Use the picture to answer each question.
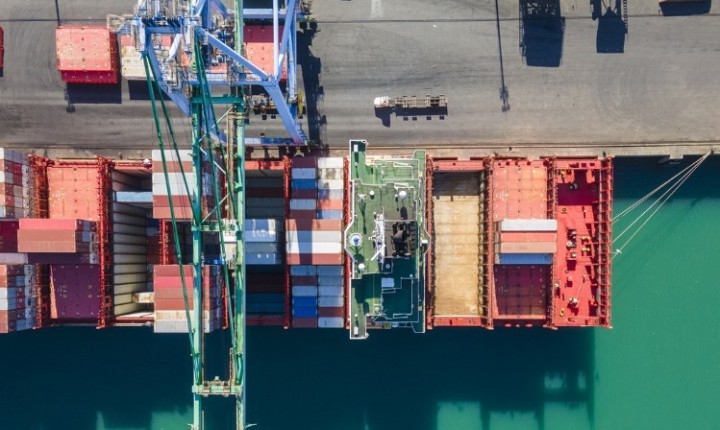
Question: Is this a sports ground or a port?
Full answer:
This looks like a port.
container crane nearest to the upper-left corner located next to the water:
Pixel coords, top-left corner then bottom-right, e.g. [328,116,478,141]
[101,0,331,430]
